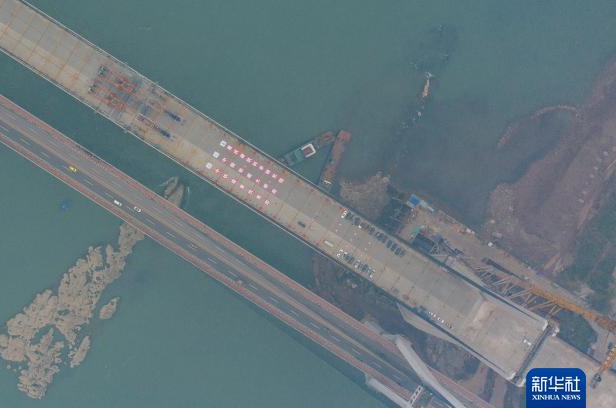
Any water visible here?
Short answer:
Yes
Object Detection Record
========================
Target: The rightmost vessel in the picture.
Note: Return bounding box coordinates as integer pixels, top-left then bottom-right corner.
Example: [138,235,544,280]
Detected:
[321,130,353,190]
